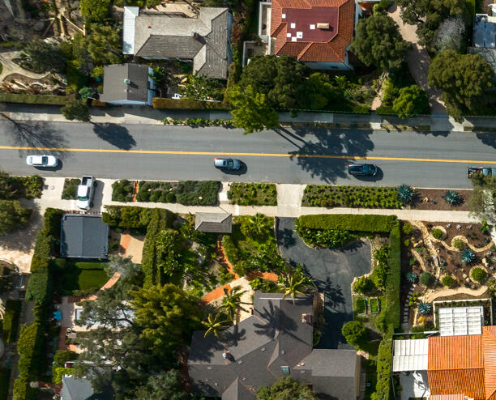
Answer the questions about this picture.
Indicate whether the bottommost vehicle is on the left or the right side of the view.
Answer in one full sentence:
It is on the left.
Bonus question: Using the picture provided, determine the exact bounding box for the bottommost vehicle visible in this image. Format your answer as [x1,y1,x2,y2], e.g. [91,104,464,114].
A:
[76,173,96,210]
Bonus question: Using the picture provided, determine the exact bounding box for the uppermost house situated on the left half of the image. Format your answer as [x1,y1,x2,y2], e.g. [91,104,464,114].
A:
[123,6,236,82]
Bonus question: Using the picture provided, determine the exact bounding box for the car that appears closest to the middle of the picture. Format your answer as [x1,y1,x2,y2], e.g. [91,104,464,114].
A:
[216,158,244,172]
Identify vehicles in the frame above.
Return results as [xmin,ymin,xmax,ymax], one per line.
[468,165,496,180]
[27,154,61,169]
[76,173,96,210]
[348,163,379,178]
[216,158,244,172]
